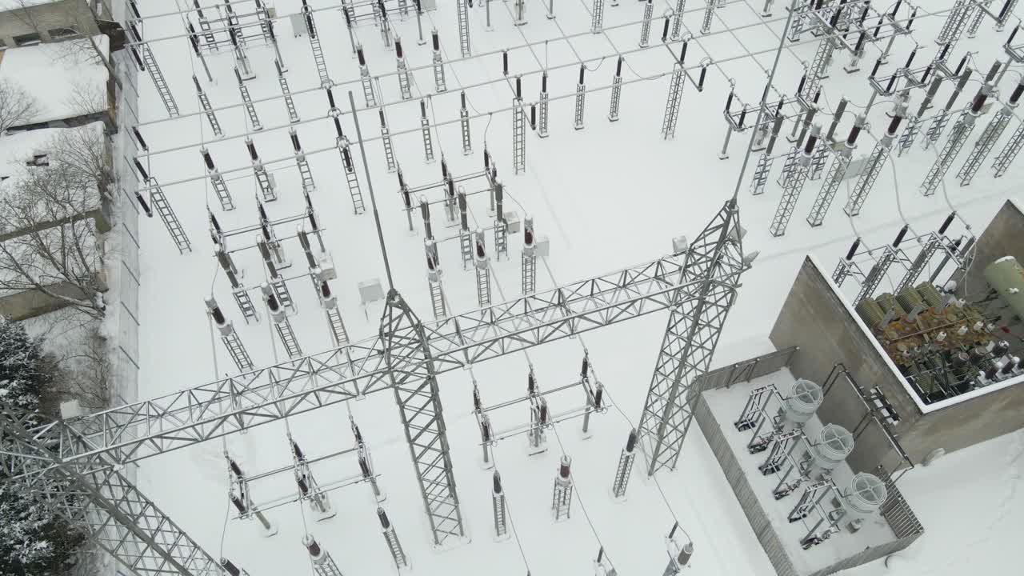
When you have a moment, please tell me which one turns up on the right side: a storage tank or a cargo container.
storage tank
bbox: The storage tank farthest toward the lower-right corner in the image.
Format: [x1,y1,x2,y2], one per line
[879,310,993,397]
